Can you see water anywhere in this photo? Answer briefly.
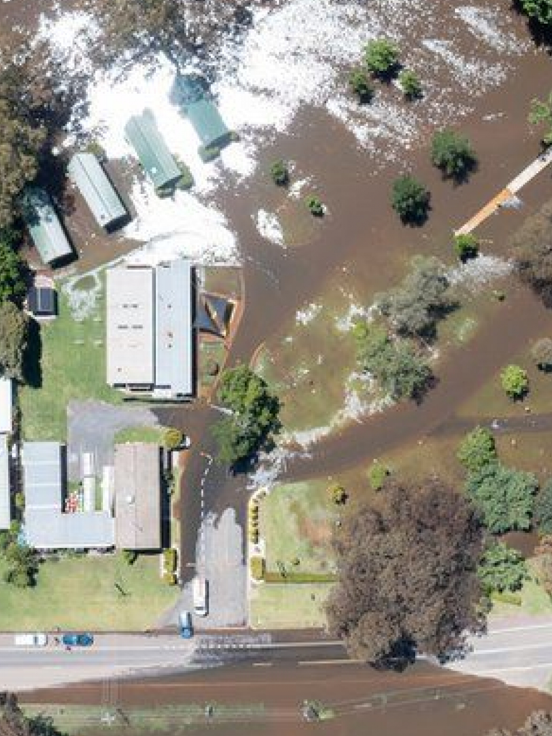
Yes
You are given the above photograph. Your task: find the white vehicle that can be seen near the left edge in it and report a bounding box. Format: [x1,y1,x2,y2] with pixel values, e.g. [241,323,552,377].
[13,633,48,646]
